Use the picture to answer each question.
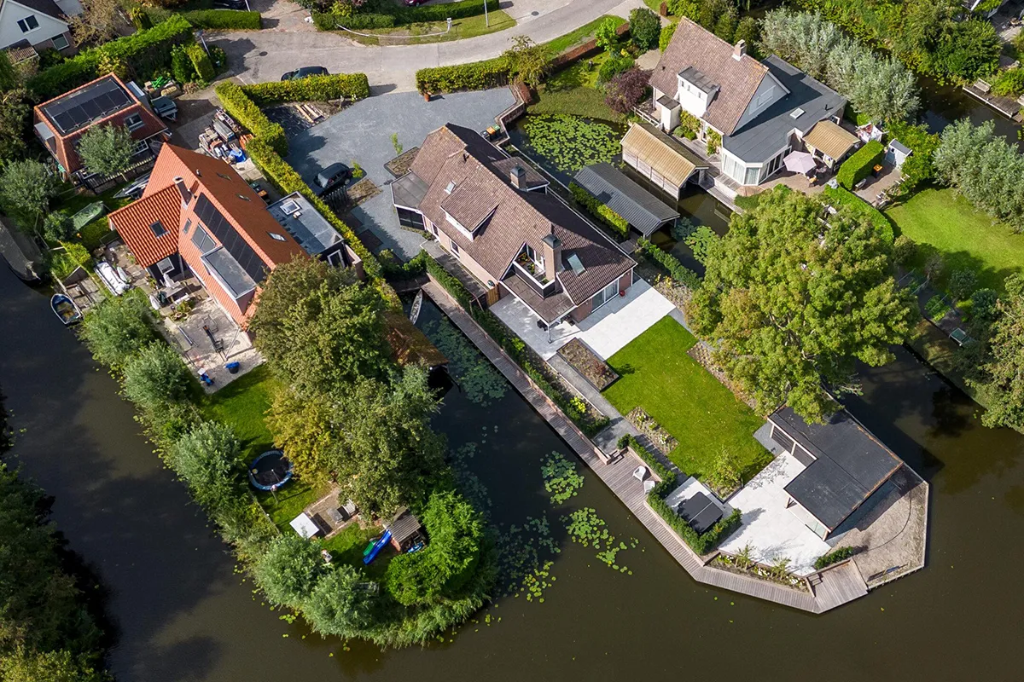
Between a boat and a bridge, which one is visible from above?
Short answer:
boat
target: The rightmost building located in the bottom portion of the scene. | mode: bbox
[768,400,907,544]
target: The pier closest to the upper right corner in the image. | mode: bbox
[960,82,1024,123]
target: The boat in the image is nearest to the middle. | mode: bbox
[410,290,422,325]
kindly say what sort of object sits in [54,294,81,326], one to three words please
boat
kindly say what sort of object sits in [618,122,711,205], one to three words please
building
